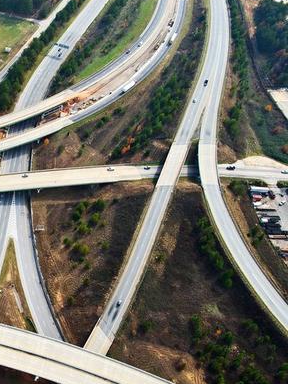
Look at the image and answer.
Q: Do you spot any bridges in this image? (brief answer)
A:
Yes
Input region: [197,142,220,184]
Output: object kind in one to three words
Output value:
bridge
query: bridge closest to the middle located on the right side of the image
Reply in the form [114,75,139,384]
[157,141,190,185]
